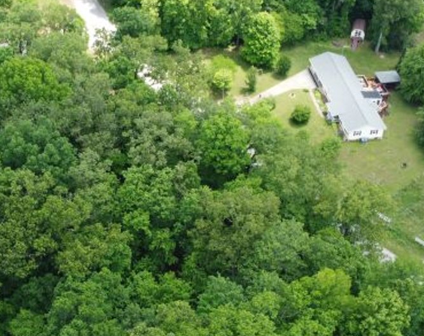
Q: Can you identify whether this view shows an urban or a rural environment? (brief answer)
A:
rural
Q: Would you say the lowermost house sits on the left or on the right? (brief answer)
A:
right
